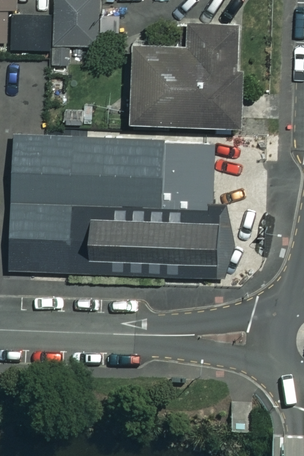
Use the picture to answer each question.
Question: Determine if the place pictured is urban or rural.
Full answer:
The land in this view is best described as urban.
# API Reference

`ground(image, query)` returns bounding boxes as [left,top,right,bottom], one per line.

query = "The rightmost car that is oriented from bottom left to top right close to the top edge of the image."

[220,0,244,24]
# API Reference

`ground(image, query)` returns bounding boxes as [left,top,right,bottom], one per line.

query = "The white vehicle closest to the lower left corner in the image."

[0,348,24,362]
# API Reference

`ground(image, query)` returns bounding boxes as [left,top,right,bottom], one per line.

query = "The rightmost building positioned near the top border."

[129,22,244,129]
